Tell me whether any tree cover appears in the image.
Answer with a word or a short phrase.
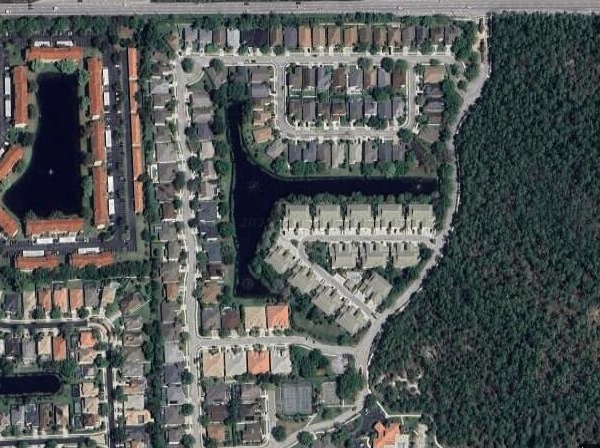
Yes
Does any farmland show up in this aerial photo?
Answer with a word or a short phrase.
No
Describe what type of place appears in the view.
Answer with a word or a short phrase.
residential area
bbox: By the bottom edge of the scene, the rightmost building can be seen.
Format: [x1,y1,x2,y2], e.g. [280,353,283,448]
[373,422,402,448]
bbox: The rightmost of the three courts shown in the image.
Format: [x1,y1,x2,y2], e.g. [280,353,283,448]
[322,380,339,405]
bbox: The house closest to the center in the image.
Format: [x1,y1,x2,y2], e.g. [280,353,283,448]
[282,204,313,230]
